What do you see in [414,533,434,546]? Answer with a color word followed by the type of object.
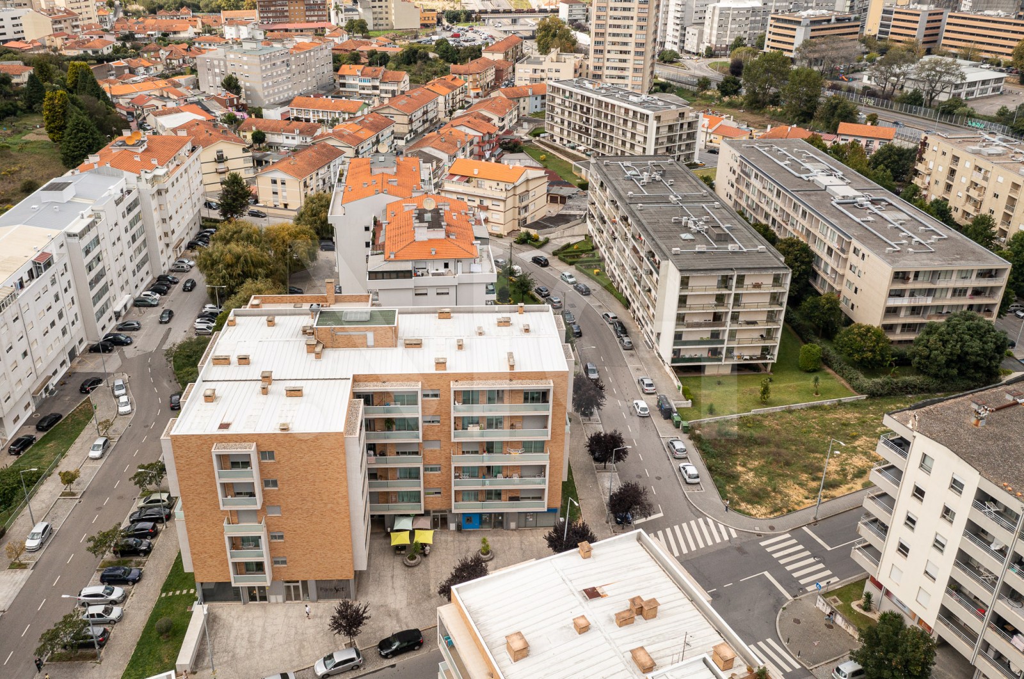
yellow umbrella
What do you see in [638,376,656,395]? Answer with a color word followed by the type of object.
gray car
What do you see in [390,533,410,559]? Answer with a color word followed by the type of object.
yellow umbrella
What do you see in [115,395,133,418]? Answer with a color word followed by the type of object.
white car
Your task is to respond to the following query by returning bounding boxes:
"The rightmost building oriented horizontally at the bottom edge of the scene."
[431,526,792,679]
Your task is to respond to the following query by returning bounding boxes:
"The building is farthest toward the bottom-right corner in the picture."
[851,367,1024,679]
